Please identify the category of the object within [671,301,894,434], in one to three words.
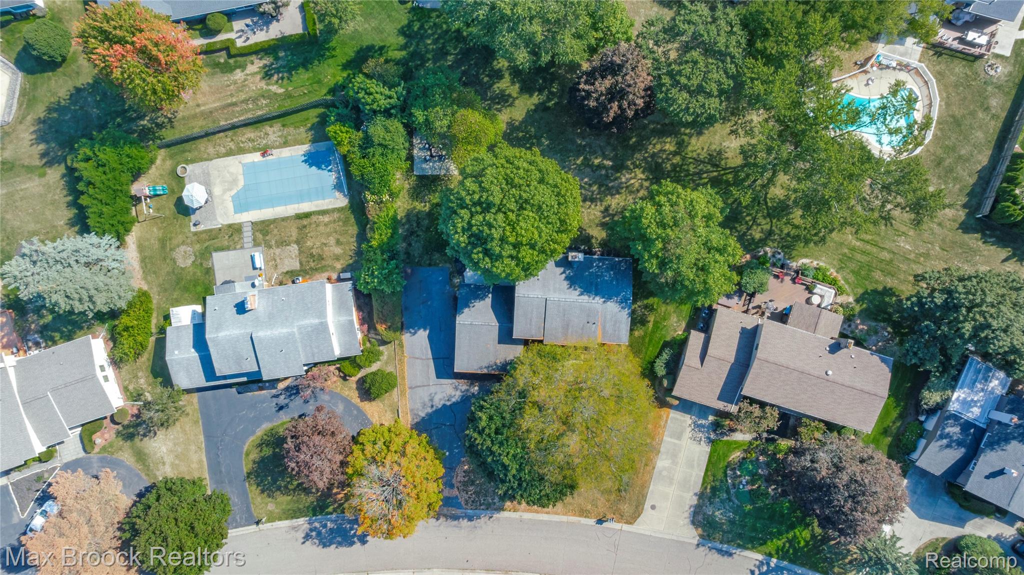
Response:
house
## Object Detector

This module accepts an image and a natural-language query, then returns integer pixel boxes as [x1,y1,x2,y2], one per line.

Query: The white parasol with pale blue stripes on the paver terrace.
[183,182,208,207]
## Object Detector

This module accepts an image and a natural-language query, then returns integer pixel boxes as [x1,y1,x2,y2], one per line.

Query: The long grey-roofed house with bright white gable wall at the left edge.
[0,325,141,471]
